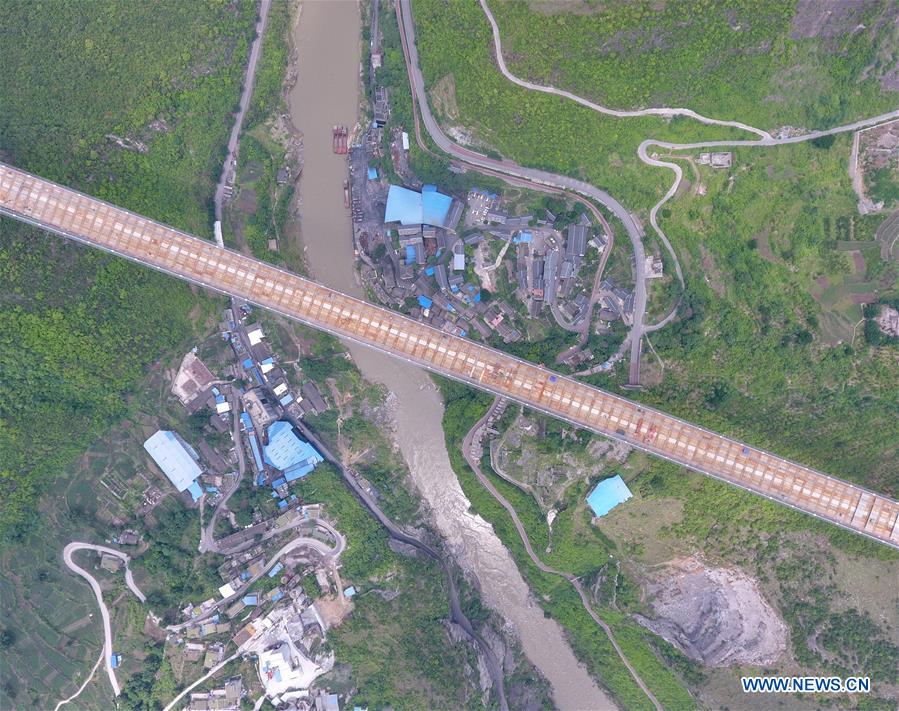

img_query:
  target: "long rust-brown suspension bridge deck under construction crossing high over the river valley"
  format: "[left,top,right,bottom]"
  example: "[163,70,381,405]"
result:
[0,164,899,552]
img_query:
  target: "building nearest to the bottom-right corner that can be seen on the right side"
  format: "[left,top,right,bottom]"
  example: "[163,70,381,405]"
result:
[583,473,633,518]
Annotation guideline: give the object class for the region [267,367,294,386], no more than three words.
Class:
house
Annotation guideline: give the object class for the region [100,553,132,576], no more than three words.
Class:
house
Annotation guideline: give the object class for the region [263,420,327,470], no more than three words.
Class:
building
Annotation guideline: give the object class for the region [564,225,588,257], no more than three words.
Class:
building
